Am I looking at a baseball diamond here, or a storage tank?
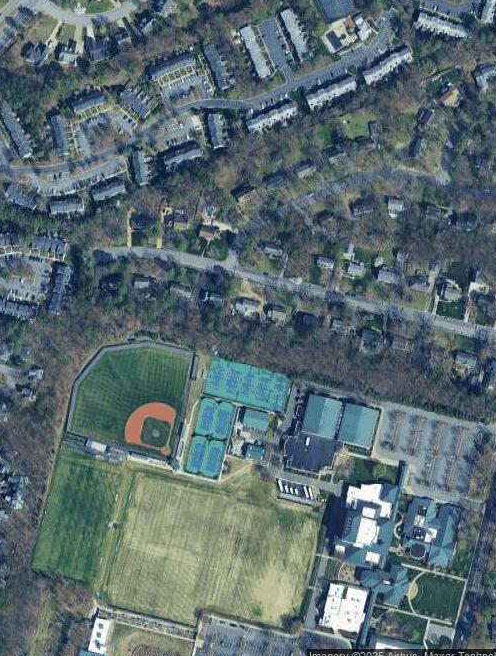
baseball diamond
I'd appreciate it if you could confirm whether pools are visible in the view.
Yes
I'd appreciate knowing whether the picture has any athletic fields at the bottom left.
Yes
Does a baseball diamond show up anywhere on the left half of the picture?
Yes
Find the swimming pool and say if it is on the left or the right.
right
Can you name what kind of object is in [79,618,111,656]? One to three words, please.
building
